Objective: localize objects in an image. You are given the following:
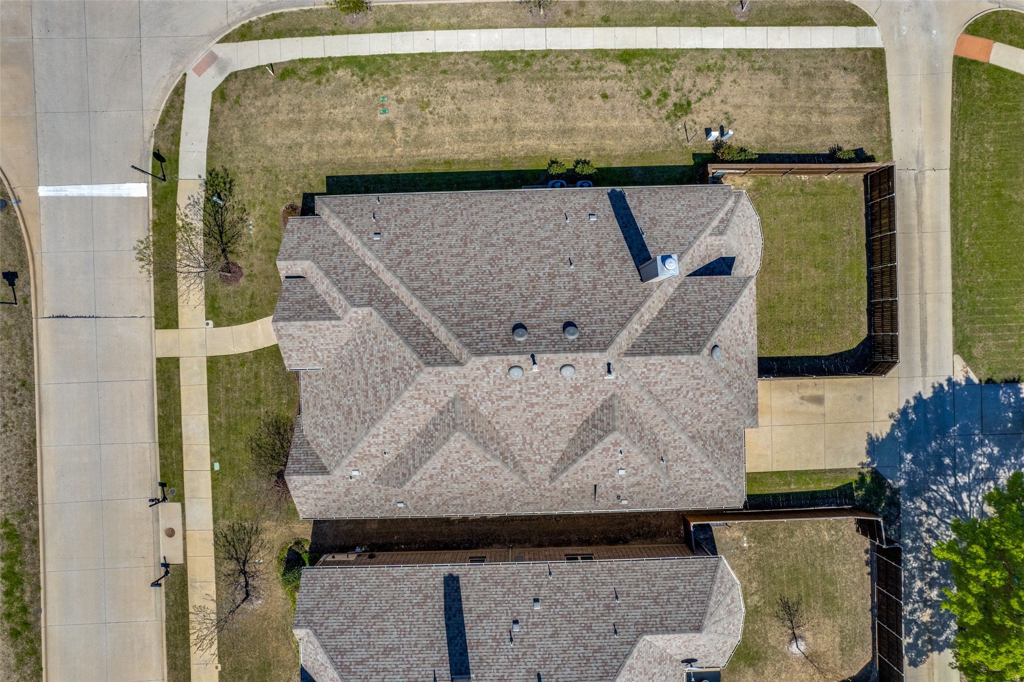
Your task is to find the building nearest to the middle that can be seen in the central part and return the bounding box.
[272,185,765,522]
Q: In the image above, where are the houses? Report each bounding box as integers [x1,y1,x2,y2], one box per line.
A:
[280,543,747,682]
[272,185,765,522]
